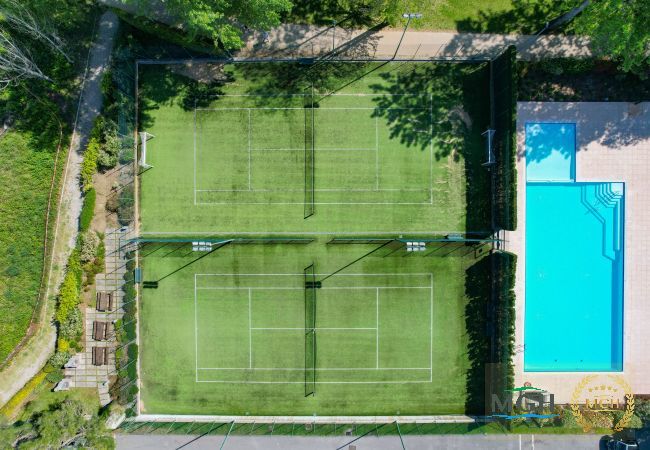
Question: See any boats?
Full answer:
No, no boat is visible in the view.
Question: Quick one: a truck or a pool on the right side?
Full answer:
The one visible on the right side is a pool.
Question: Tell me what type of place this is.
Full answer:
The picture captures a sports ground.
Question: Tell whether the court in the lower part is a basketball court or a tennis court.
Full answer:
What you see as the court in the lower part is a tennis court.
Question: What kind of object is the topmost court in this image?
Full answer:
The topmost court is a tennis court.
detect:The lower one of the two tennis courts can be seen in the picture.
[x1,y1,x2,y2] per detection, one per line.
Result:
[139,236,492,415]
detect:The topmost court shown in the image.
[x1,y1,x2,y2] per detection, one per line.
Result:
[139,62,492,236]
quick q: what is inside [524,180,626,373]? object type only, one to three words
swimming pool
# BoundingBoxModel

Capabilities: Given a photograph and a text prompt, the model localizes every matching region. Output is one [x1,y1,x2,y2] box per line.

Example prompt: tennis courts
[139,236,492,415]
[139,62,492,236]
